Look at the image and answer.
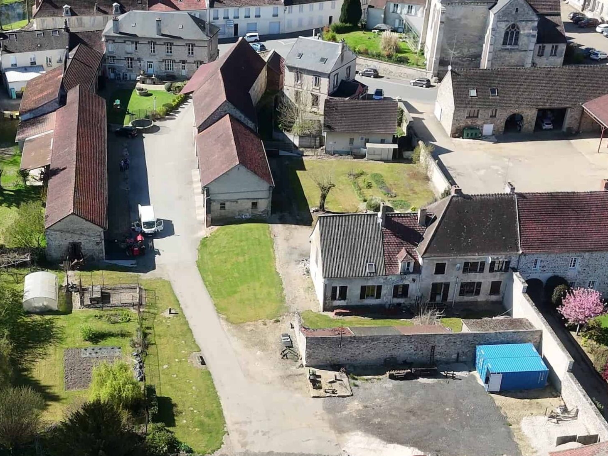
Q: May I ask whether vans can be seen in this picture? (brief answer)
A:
Yes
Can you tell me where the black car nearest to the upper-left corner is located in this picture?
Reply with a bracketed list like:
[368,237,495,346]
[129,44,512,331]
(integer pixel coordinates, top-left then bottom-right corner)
[110,126,141,140]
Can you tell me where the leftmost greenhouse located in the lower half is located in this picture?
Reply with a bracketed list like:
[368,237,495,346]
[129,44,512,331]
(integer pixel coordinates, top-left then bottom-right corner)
[24,273,65,312]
